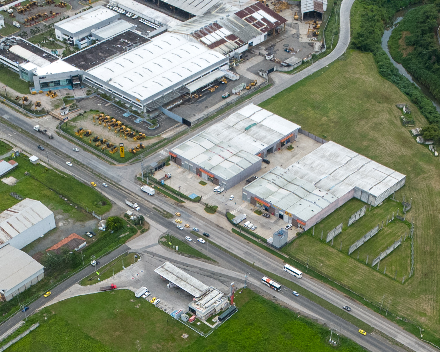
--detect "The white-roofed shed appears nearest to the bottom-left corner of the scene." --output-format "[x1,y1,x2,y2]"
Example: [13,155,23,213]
[0,245,48,305]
